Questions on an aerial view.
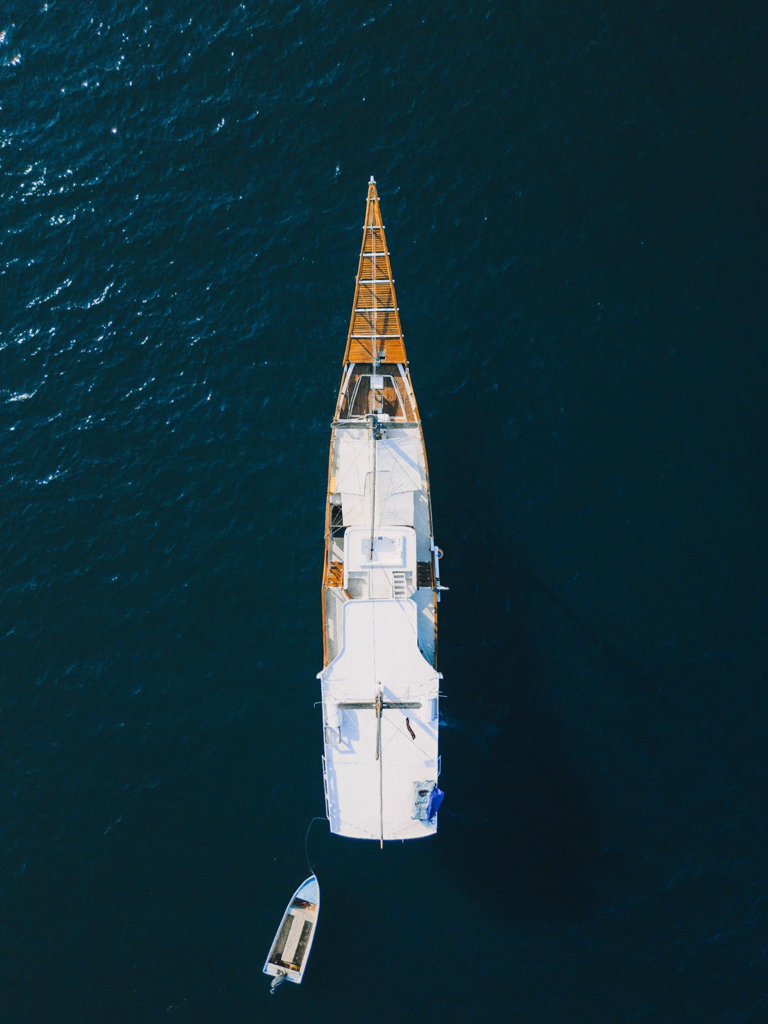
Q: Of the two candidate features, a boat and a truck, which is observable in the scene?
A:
boat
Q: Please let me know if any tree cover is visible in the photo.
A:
No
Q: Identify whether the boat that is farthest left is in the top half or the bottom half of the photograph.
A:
bottom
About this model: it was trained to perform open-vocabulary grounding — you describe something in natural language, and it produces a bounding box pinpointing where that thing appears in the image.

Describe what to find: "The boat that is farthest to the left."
[262,872,320,983]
